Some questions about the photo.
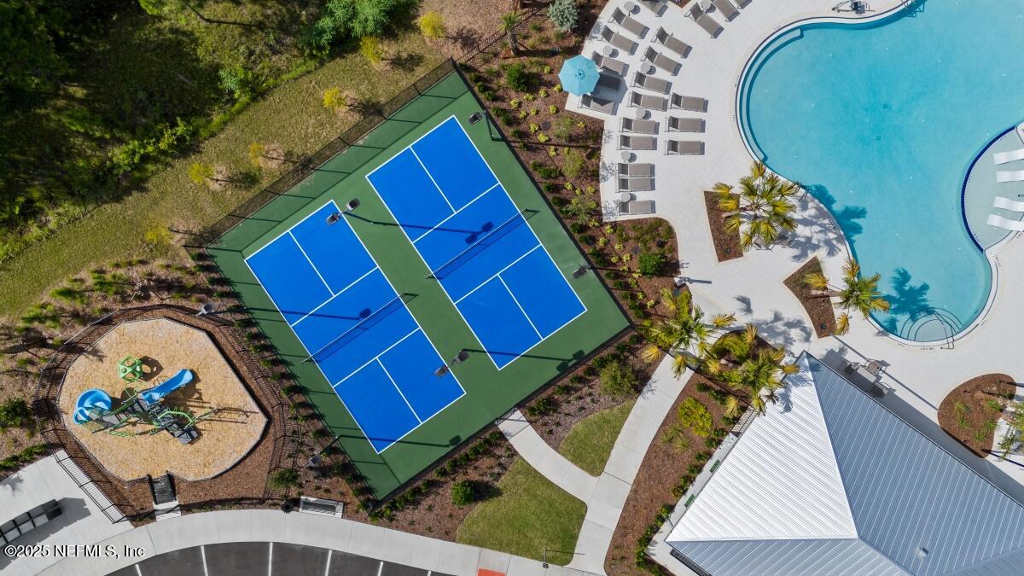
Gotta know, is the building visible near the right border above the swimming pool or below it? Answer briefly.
below it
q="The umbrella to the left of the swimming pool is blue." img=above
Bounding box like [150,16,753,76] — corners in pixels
[558,55,600,98]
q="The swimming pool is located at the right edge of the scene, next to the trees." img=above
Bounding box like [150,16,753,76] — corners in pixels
[733,0,1024,350]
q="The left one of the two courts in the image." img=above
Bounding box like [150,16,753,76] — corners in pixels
[244,200,466,454]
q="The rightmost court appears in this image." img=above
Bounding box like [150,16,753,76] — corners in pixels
[365,115,587,370]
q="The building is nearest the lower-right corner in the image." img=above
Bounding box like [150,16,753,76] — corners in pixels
[663,353,1024,576]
